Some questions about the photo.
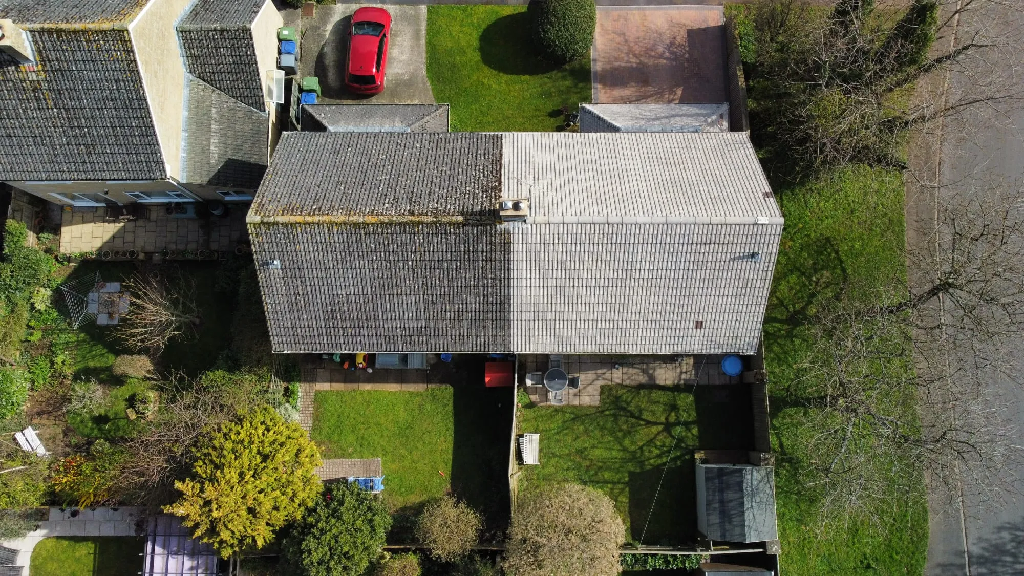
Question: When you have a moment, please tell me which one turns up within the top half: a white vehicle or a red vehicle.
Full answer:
The feature located within the top half is a red vehicle.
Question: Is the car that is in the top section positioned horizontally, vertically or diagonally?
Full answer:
Seen from above, the car that is in the top section lies vertically.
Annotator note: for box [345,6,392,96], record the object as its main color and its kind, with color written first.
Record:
red car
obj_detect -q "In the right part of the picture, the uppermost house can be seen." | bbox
[497,100,785,357]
